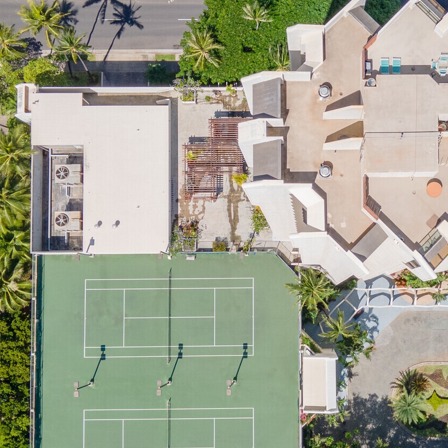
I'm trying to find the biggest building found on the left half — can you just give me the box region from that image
[15,83,176,256]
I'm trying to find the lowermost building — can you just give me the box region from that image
[304,336,338,414]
